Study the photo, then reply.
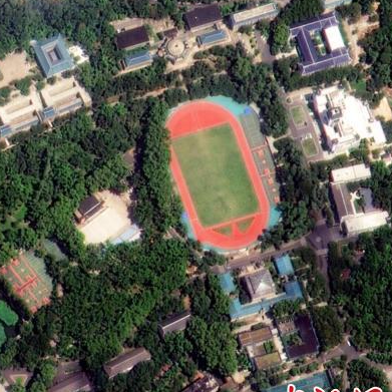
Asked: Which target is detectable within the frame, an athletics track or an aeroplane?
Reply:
athletics track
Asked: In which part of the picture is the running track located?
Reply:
center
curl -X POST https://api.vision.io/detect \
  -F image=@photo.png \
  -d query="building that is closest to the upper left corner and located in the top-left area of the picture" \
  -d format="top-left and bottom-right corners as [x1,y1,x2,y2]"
[34,34,75,79]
